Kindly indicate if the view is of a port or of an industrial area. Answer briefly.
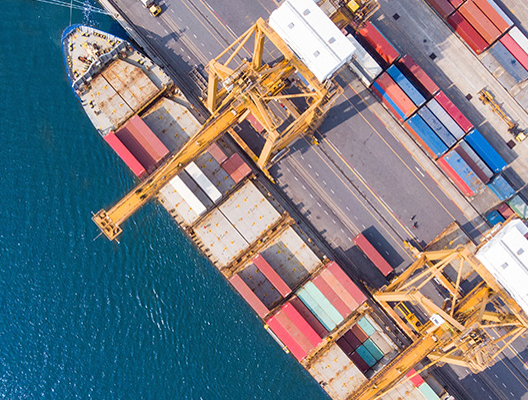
port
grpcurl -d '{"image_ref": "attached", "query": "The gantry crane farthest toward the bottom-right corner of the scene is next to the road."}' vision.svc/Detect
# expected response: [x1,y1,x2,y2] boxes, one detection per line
[345,212,528,400]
